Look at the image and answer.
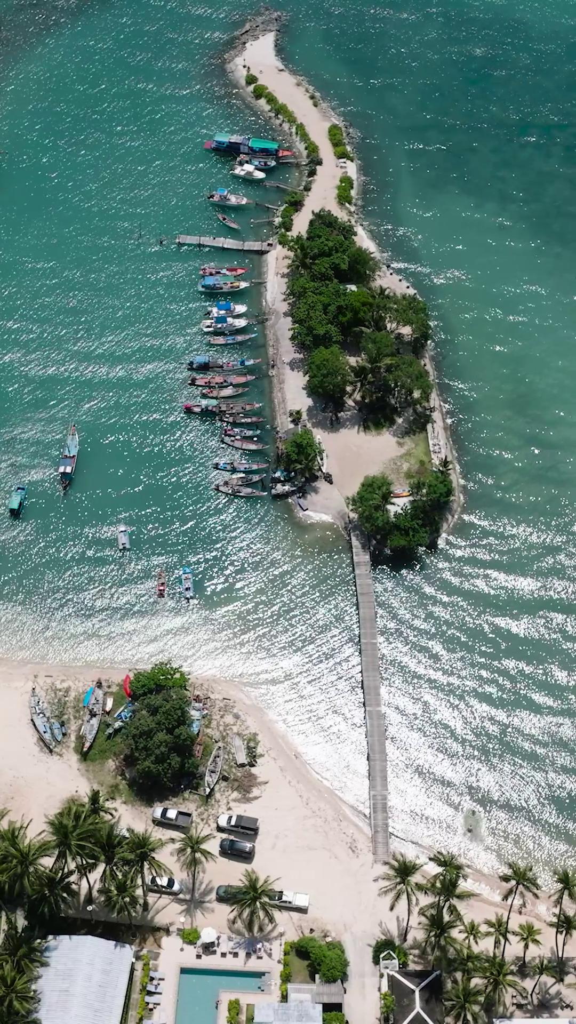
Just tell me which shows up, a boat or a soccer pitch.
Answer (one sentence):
The one in the frame is a boat.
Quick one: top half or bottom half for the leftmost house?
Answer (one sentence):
It is in the bottom half that the leftmost house appears.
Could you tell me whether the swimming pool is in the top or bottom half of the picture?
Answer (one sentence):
Seen from above, the swimming pool lies in the bottom half of the view.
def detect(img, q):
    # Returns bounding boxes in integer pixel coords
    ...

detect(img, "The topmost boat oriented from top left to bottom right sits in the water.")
[216,212,241,231]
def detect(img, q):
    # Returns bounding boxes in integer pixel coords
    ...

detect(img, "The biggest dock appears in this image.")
[175,230,277,257]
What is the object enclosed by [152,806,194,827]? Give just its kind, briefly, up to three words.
truck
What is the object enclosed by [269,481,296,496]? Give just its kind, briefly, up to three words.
boat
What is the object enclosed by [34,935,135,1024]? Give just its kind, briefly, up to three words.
house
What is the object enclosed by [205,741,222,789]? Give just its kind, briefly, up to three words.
boat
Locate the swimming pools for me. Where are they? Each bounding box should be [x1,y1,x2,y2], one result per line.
[149,937,284,1024]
